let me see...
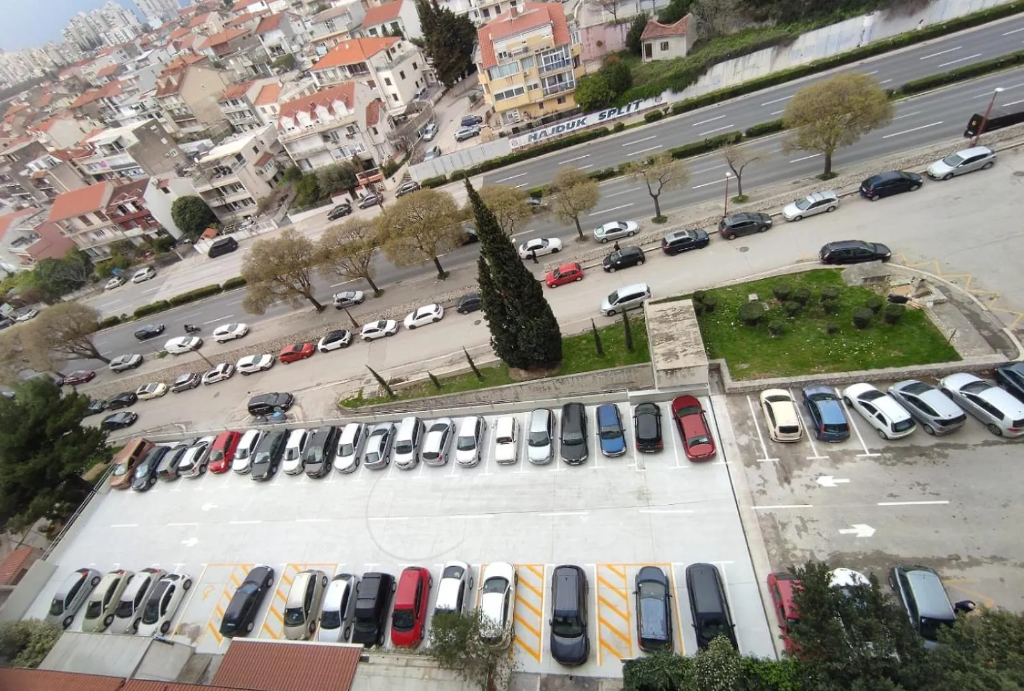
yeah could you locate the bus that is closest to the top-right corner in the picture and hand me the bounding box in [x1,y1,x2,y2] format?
[961,96,1024,138]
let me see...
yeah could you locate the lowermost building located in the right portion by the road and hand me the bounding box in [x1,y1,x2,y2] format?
[644,299,709,384]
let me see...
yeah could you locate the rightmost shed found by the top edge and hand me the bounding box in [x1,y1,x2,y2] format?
[639,6,701,64]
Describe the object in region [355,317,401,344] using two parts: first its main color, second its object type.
white car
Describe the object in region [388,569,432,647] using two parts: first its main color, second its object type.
red car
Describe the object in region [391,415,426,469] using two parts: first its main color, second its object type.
white car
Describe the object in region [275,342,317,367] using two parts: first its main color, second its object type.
red car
